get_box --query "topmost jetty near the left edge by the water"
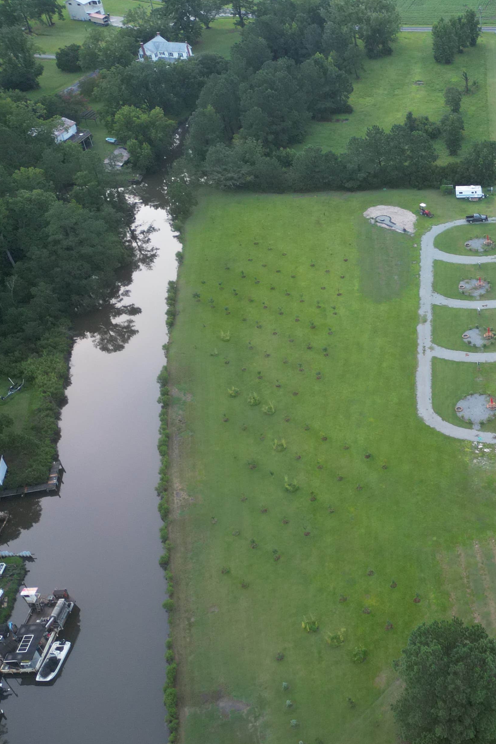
[0,456,63,504]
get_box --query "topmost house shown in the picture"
[65,0,106,21]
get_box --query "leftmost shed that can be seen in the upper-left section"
[34,118,80,145]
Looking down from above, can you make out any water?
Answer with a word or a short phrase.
Yes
